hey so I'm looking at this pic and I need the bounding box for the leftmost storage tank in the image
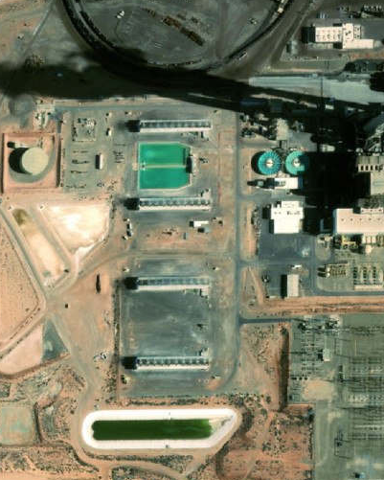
[19,147,48,176]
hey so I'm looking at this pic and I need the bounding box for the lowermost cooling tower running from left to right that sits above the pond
[134,357,210,370]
